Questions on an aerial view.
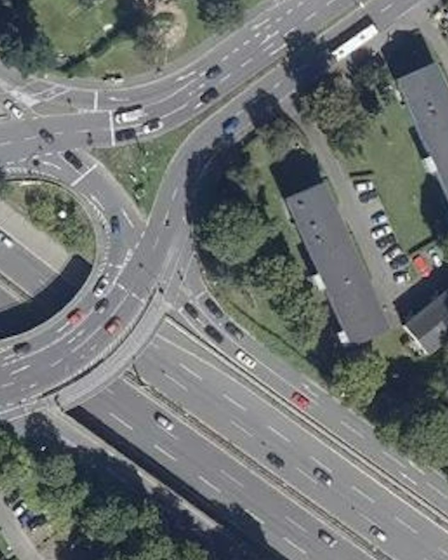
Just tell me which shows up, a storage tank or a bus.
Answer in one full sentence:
The image shows a bus.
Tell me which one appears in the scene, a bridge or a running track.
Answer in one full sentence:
The image shows a bridge.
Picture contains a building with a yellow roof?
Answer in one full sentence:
No, there's no building with a yellow roof here.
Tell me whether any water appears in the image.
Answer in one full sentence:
No, there is no water in the image.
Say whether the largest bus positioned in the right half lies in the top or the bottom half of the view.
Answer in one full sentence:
Seen from above, the largest bus positioned in the right half lies in the top half of the view.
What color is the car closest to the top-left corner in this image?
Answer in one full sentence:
In this view, the car closest to the top-left corner is white.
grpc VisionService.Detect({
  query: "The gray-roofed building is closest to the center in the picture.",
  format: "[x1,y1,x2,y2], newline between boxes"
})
[282,183,388,351]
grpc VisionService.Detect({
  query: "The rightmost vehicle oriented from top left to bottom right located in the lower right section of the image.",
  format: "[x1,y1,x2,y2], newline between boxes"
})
[367,524,388,542]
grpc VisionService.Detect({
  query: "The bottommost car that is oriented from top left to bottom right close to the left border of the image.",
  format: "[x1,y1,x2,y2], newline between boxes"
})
[0,231,15,249]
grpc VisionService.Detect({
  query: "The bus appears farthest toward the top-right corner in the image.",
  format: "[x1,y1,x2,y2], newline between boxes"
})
[326,24,379,57]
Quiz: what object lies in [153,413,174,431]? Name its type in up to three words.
car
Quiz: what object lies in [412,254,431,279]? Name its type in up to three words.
vehicle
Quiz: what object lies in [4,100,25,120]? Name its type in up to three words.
car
